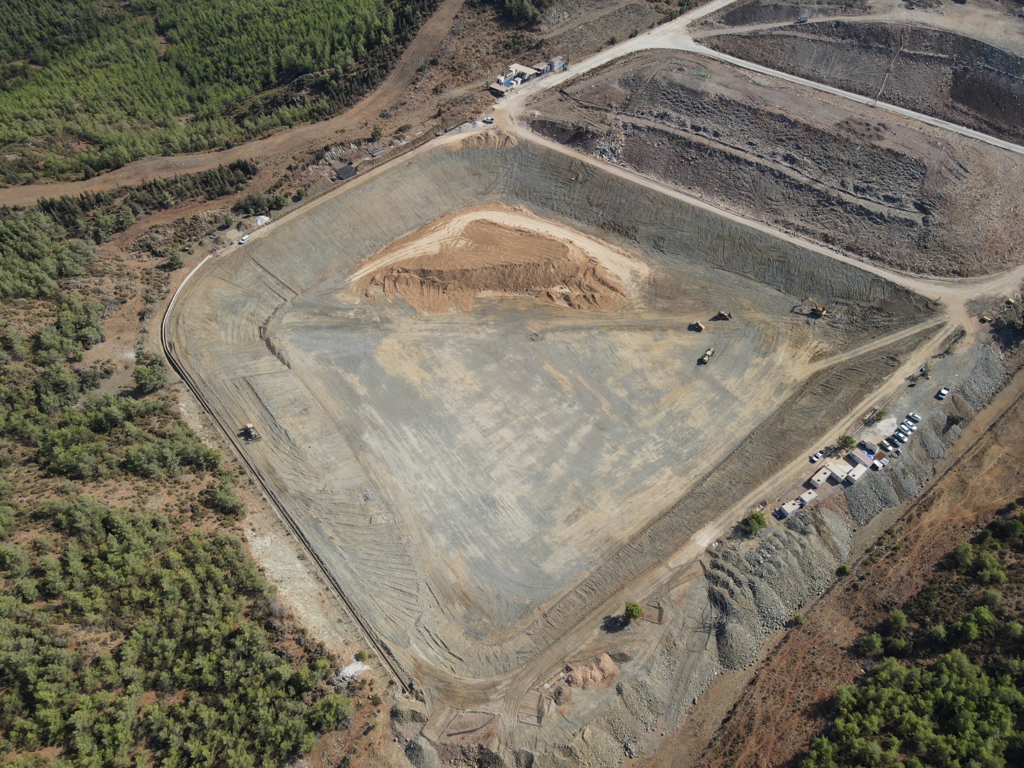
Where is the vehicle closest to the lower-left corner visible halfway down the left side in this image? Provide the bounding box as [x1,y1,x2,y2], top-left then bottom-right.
[244,424,258,439]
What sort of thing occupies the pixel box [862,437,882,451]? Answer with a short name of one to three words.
vehicle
